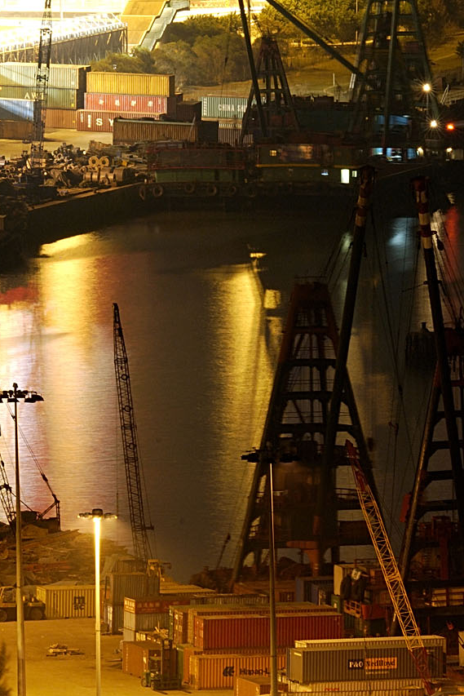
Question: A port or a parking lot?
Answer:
port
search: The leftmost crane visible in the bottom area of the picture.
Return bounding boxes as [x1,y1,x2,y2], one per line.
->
[0,374,58,517]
